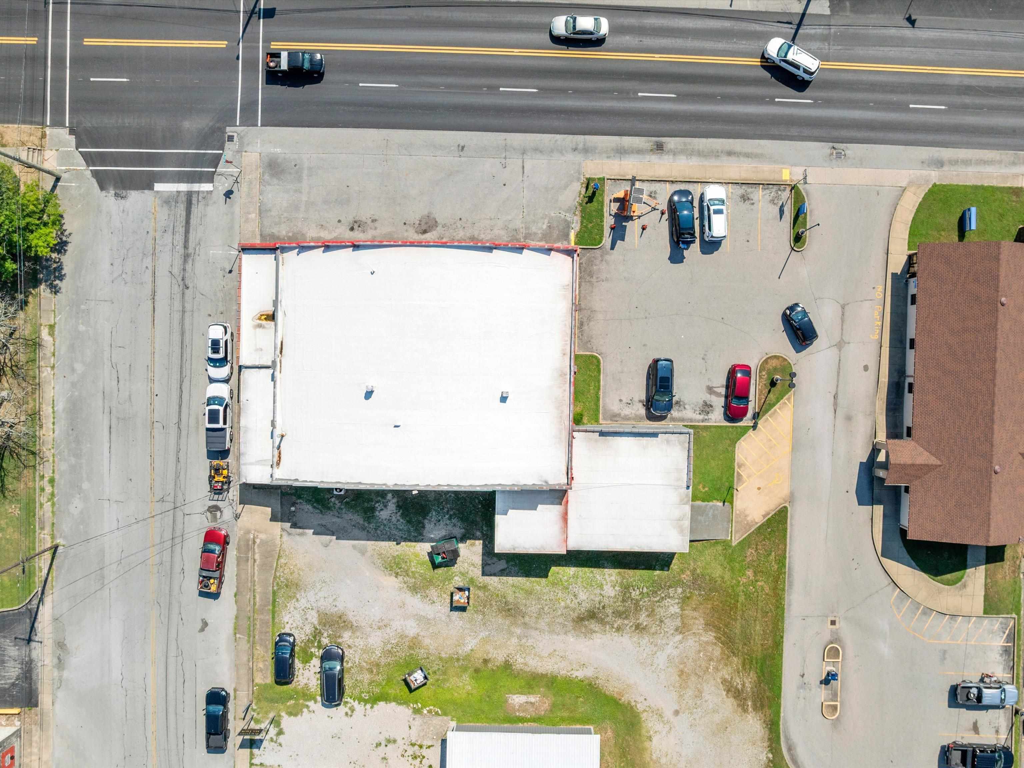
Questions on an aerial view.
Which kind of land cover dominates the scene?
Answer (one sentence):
For the most part, this view shows paved ground.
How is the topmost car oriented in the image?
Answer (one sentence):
The topmost car runs horizontally in the image.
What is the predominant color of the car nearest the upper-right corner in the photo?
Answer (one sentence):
The color of the car nearest the upper-right corner is white.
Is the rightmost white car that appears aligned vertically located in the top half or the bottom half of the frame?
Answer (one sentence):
The top half of the photo is where the rightmost white car that appears aligned vertically is.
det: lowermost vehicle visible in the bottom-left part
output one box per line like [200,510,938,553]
[201,686,231,753]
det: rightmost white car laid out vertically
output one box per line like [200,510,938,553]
[703,185,731,242]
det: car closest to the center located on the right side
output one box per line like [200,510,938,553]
[650,359,677,416]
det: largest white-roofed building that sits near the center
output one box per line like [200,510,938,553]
[236,238,579,493]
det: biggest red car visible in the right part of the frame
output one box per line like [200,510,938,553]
[725,365,753,420]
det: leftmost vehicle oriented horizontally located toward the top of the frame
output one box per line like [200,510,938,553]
[264,46,326,76]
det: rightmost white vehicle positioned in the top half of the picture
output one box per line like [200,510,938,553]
[763,38,823,83]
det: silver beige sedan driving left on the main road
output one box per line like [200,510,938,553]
[550,12,610,41]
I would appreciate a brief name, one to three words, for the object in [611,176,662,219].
trailer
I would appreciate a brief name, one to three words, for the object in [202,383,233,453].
truck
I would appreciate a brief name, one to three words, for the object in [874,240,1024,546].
building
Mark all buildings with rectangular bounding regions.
[446,725,600,768]
[0,727,23,768]
[874,240,1024,546]
[236,238,579,493]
